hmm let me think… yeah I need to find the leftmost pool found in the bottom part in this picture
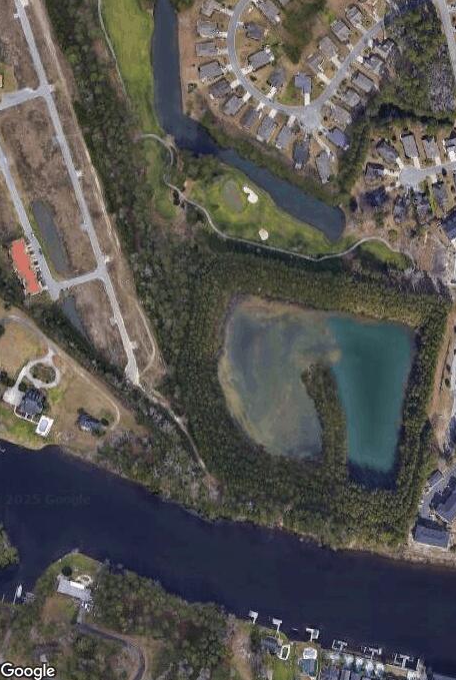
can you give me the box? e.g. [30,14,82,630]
[36,415,54,437]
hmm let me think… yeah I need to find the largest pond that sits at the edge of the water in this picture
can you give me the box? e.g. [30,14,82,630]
[219,296,413,490]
